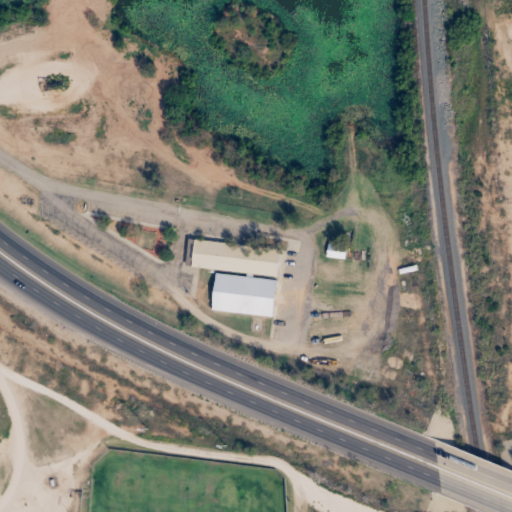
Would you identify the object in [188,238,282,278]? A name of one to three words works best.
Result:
building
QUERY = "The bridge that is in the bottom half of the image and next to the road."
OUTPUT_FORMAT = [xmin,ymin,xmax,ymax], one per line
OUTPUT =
[420,440,512,512]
